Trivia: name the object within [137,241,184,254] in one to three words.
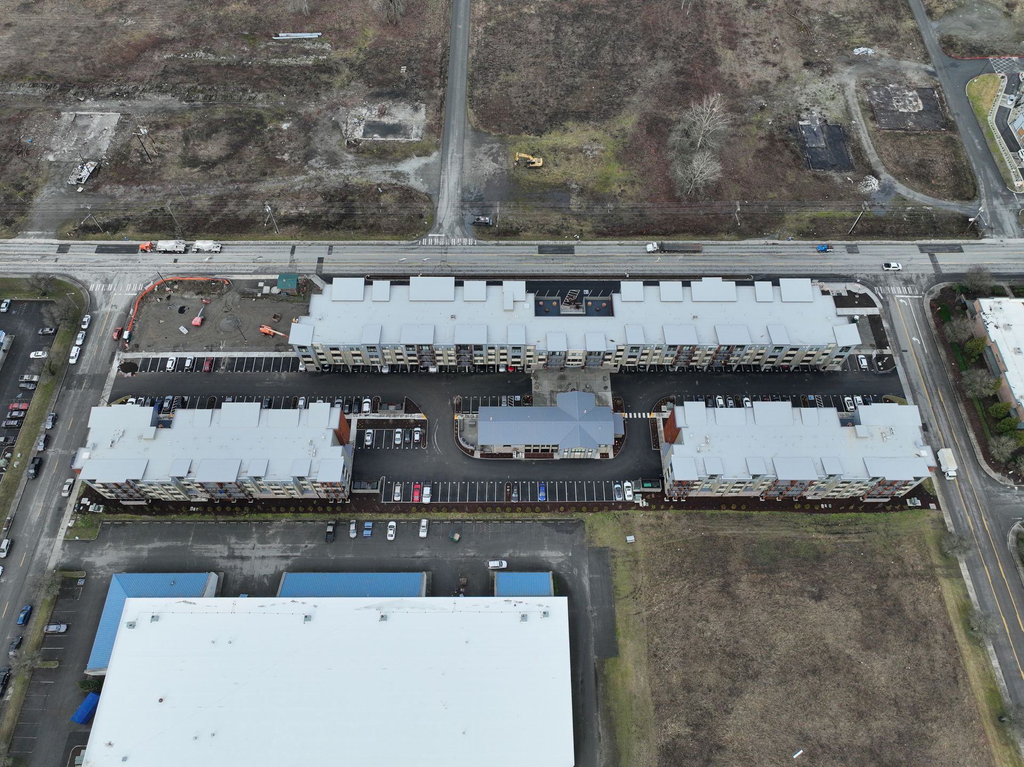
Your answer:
vehicle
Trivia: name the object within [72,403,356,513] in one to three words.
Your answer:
building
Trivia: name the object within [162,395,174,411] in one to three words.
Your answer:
vehicle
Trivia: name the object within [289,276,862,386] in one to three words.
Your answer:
building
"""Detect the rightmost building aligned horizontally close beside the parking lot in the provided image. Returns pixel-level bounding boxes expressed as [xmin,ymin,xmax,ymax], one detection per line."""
[660,401,937,511]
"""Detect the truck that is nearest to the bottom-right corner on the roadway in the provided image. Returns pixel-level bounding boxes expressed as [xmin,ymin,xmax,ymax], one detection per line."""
[940,447,961,479]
